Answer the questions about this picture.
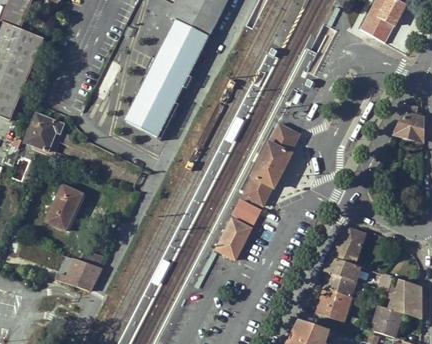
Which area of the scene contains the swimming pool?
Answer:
left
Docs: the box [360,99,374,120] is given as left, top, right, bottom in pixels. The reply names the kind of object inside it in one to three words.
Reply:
vehicle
